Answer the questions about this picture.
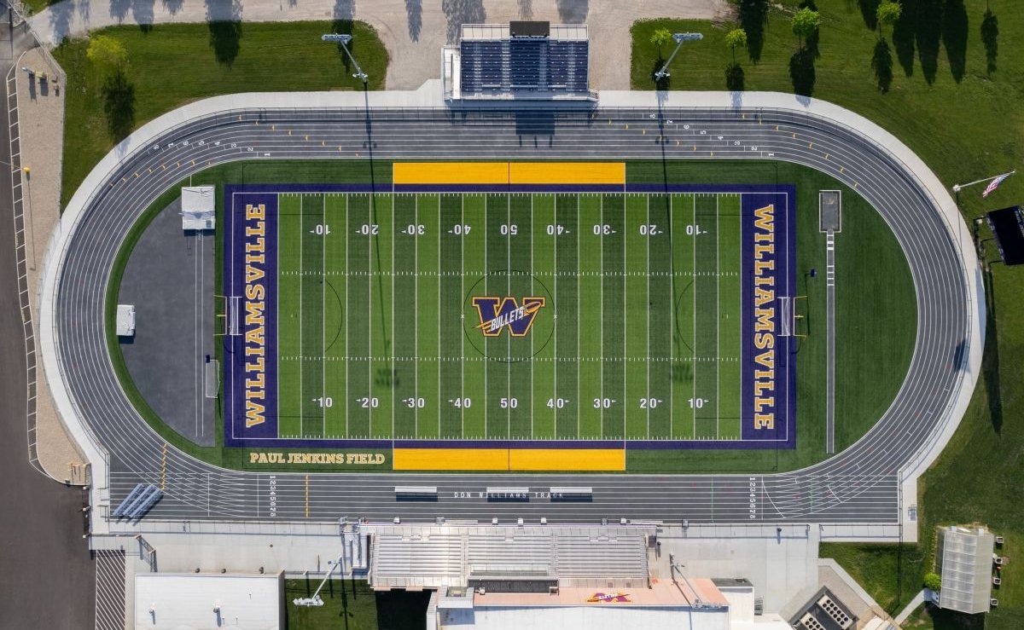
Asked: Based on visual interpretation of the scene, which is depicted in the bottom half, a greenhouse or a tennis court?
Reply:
greenhouse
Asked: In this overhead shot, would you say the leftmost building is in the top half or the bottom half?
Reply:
bottom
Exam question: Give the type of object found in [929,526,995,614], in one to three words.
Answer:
greenhouse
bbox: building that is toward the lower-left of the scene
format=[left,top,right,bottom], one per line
[134,567,288,630]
